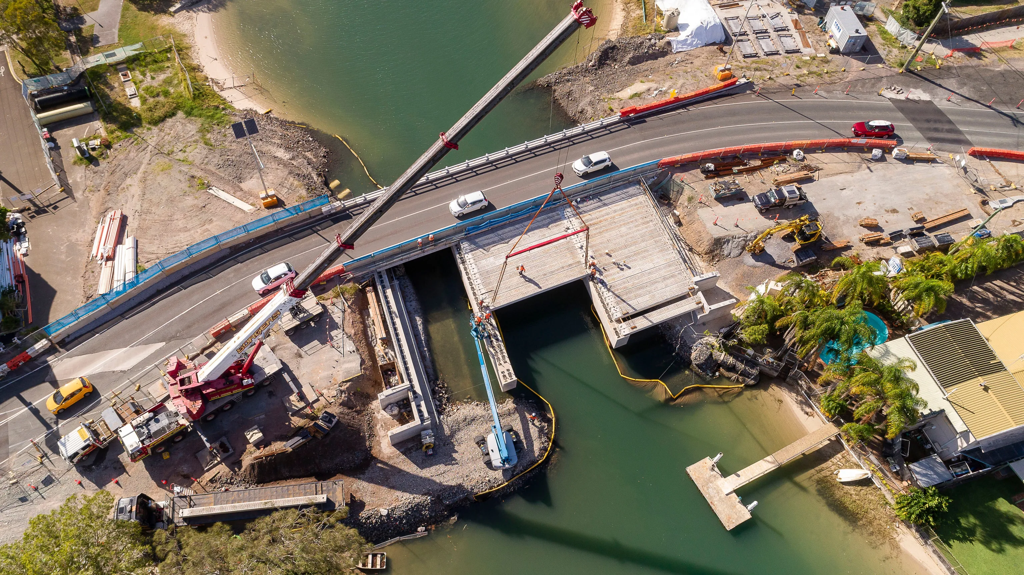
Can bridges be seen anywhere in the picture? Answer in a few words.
Yes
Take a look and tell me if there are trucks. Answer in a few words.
Yes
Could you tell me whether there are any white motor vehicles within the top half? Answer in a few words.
Yes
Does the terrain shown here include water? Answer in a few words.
Yes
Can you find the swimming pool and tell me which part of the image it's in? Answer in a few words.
right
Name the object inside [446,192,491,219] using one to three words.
car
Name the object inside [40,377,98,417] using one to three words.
car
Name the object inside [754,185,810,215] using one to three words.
truck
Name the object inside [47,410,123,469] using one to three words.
truck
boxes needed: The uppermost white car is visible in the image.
[571,151,613,177]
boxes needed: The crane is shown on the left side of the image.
[115,7,597,463]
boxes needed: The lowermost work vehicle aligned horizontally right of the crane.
[749,211,830,254]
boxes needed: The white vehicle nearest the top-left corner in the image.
[248,262,296,296]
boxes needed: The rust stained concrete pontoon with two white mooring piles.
[684,452,759,532]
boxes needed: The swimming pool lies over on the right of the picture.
[817,307,892,371]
